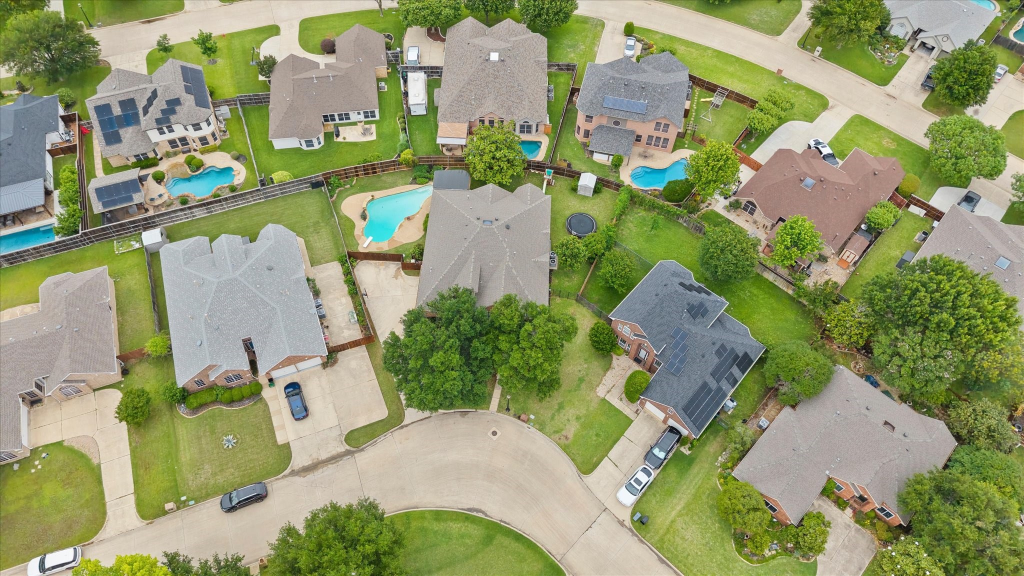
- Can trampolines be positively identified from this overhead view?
Yes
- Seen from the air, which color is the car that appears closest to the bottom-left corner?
white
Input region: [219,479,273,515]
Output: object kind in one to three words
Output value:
car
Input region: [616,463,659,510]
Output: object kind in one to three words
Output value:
car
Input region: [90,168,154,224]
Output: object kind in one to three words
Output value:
building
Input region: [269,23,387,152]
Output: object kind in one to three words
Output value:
house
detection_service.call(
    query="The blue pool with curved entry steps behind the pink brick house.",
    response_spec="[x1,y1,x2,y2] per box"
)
[629,156,694,190]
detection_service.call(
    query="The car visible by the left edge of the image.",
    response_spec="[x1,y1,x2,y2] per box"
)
[28,543,86,576]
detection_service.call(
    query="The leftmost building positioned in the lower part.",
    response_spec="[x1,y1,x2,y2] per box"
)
[0,266,124,466]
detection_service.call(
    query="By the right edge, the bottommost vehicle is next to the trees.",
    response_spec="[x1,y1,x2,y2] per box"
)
[958,189,986,214]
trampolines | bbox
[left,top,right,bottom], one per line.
[566,208,597,238]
